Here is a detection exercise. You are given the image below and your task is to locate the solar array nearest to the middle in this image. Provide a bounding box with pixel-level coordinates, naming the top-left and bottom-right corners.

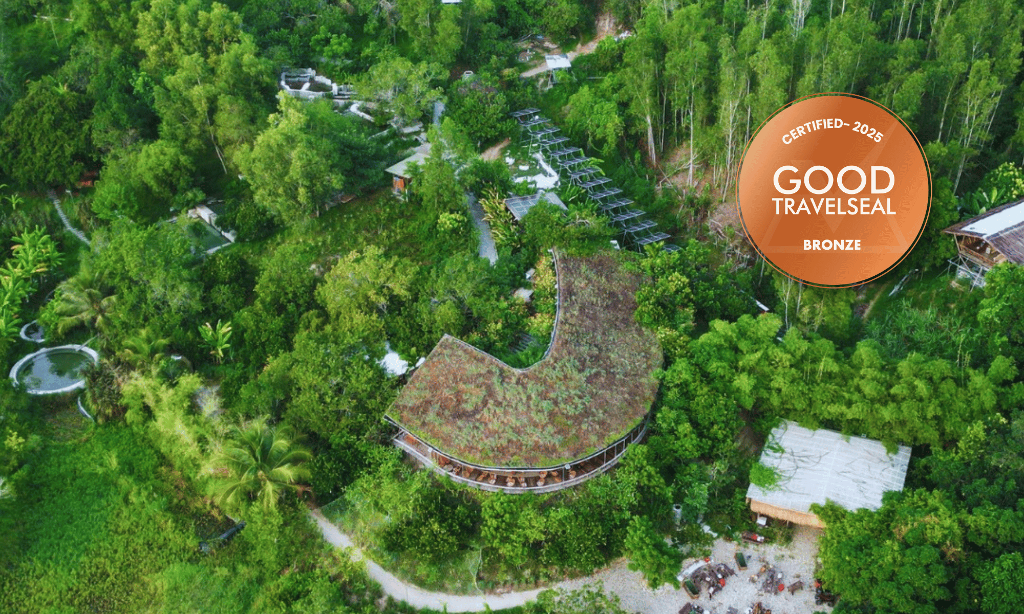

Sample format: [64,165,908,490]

[509,197,544,213]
